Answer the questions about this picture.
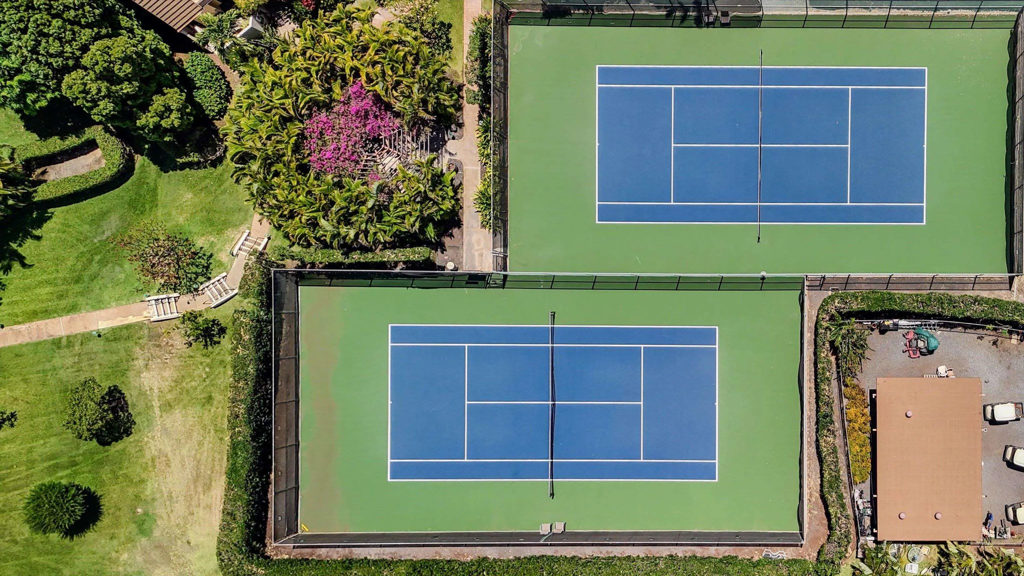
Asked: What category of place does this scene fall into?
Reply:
sports ground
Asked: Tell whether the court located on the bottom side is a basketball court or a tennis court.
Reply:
tennis court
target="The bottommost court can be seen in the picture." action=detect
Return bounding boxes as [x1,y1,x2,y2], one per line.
[300,276,802,532]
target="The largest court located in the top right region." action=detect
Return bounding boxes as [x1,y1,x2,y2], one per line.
[509,14,1014,273]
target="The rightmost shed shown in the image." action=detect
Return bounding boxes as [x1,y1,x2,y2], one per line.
[872,377,987,541]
